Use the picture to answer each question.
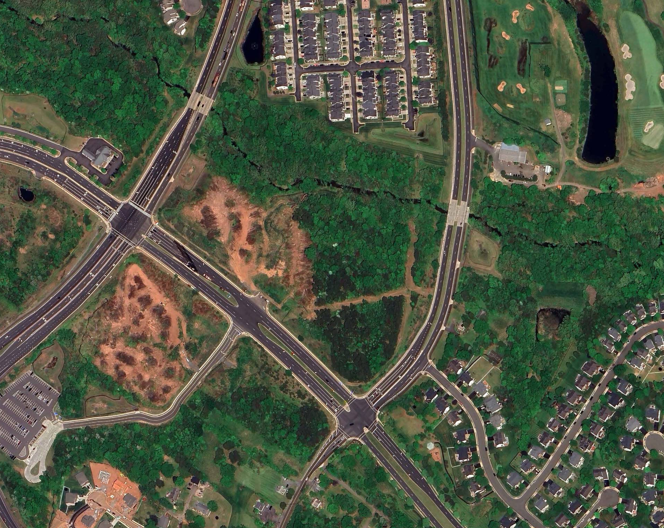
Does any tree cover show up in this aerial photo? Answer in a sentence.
Yes, some tree cover is visible.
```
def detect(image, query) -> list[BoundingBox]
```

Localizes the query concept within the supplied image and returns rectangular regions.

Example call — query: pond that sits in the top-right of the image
[566,0,618,163]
